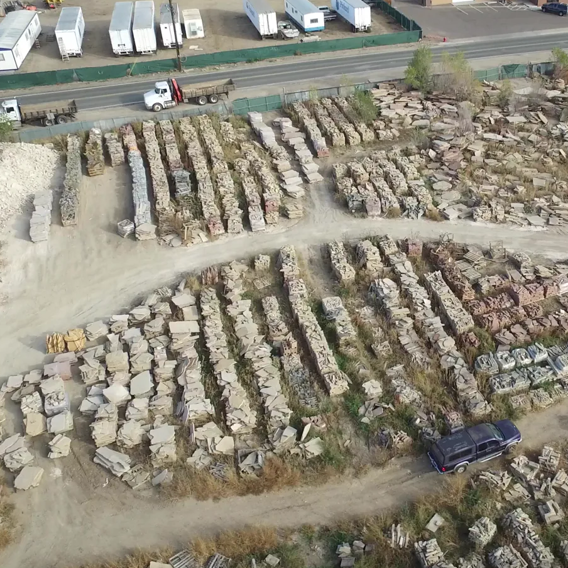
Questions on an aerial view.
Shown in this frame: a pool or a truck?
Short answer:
truck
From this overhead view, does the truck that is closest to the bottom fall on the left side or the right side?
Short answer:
right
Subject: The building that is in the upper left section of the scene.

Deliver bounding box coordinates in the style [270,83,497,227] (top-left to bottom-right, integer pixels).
[0,11,42,72]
